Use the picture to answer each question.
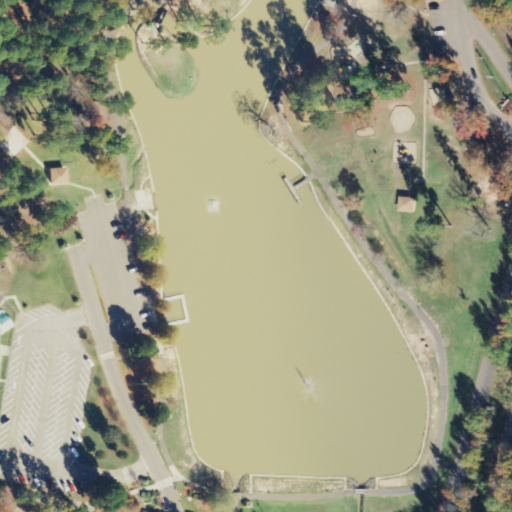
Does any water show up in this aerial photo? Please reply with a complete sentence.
Yes, some water is visible.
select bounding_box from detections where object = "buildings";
[396,196,415,212]
[50,166,69,184]
[328,82,348,98]
[0,310,15,336]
